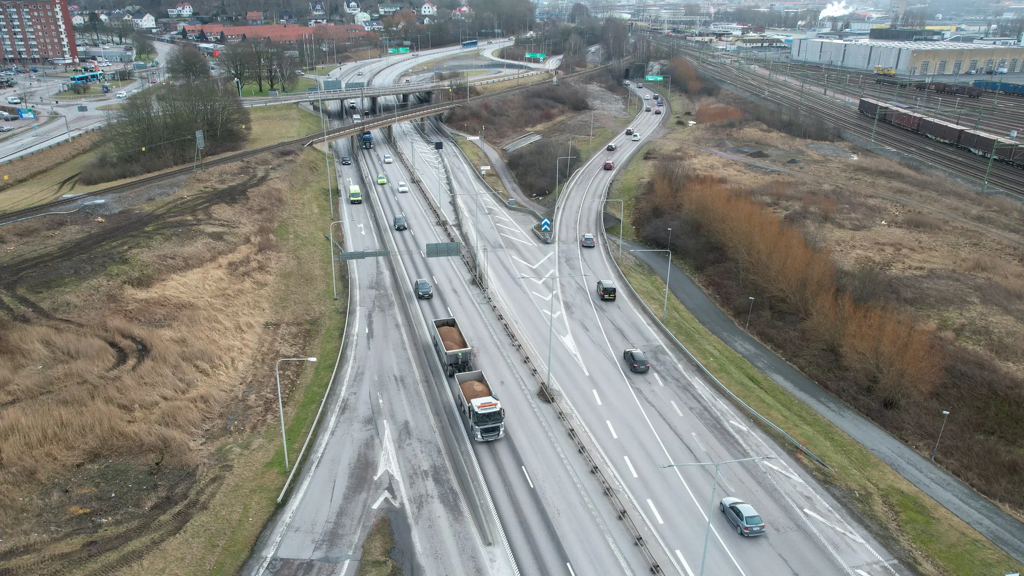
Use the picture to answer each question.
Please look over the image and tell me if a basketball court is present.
No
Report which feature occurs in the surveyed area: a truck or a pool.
truck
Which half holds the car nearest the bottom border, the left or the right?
right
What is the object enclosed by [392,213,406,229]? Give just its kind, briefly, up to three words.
car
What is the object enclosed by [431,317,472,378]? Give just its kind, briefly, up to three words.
trailer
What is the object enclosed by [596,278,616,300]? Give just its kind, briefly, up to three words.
vehicle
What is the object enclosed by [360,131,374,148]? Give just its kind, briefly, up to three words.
vehicle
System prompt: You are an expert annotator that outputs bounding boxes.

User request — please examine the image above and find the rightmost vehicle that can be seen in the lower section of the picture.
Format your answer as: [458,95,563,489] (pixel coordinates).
[715,490,764,536]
